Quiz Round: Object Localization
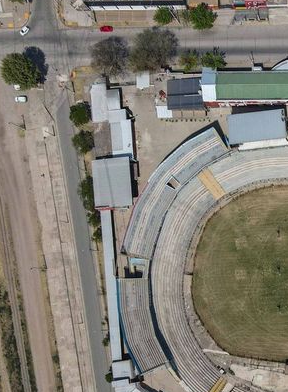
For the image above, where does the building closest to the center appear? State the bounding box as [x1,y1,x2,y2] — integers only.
[92,156,138,211]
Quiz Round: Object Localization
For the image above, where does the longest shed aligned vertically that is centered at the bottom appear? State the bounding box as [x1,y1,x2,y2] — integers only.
[101,210,126,361]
